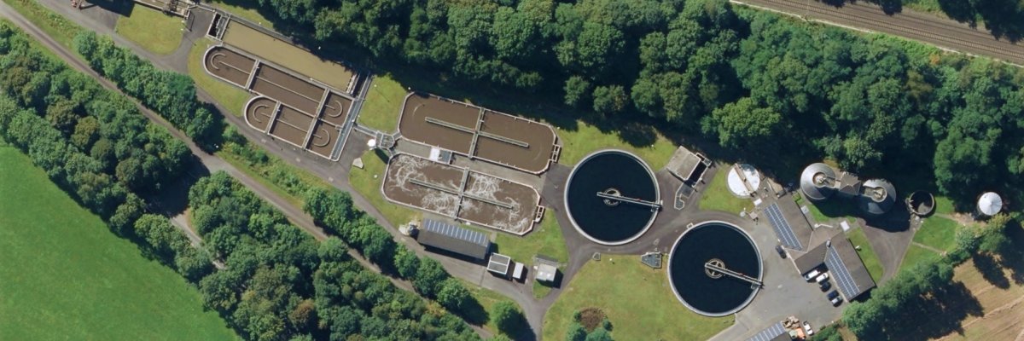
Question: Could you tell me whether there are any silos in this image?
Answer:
Yes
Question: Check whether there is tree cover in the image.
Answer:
Yes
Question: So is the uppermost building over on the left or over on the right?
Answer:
right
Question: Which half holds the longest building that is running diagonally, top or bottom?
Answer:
bottom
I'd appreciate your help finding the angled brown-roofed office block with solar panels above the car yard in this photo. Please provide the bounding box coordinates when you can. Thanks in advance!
[761,193,875,303]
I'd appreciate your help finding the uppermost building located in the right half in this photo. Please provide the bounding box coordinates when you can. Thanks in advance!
[667,145,701,180]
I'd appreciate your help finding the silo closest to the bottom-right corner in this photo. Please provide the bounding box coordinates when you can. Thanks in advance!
[978,192,1002,216]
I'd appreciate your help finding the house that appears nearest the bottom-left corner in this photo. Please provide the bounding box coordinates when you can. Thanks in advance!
[416,219,489,259]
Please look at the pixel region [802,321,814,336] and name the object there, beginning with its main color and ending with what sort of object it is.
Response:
white vehicle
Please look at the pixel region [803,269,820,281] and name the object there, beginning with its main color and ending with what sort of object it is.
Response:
white vehicle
